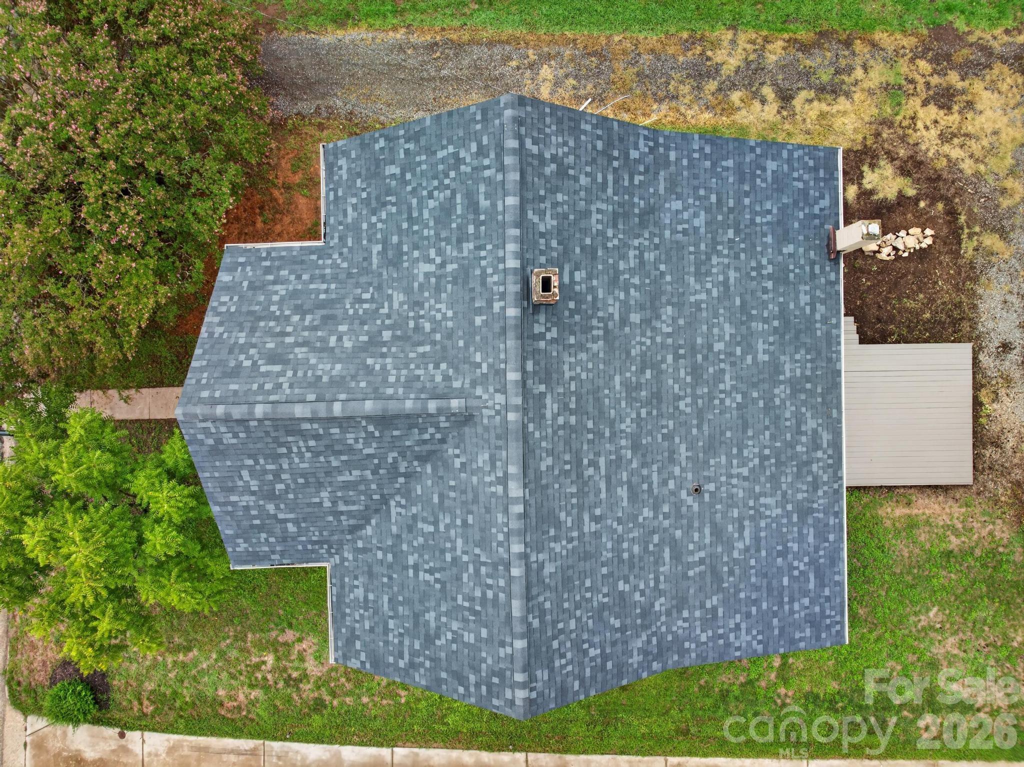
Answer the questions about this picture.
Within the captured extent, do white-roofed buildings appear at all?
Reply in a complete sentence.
No, this view has no white-roofed building in it.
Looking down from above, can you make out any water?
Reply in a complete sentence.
No, water can't be seen anywhere here.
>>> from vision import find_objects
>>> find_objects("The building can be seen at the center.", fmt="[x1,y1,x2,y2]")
[176,93,880,723]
